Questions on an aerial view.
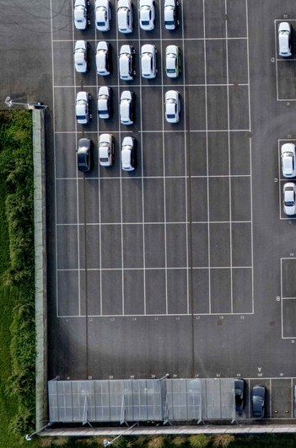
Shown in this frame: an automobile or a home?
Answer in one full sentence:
This aerial view contains an automobile.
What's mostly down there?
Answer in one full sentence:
The largest share of the image is taken up by paved ground.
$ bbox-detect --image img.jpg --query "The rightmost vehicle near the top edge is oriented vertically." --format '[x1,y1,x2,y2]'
[276,21,293,57]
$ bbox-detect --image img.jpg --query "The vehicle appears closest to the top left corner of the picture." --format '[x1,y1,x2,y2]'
[74,0,91,30]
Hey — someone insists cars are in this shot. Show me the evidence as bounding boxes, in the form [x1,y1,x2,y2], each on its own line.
[276,21,293,57]
[163,89,182,124]
[94,0,113,33]
[280,142,296,178]
[140,0,157,32]
[116,0,135,34]
[76,139,95,171]
[74,39,92,73]
[163,0,180,31]
[98,132,117,168]
[235,379,246,417]
[251,384,268,420]
[74,0,91,30]
[75,90,94,125]
[122,136,139,172]
[120,90,137,125]
[118,44,137,80]
[140,43,158,79]
[96,40,114,76]
[164,43,182,79]
[283,181,296,216]
[97,84,115,120]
